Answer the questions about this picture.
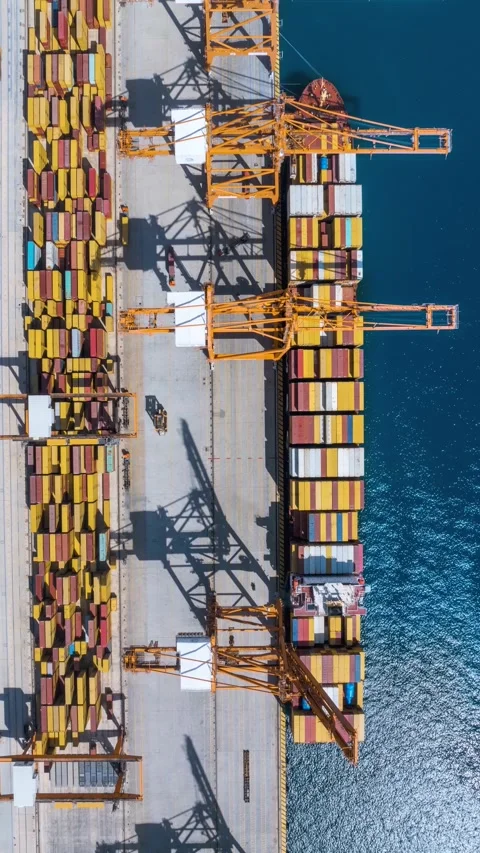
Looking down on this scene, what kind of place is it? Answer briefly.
port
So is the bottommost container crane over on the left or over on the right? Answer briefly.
left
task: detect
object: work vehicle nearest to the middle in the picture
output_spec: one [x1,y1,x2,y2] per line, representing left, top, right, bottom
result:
[151,409,167,437]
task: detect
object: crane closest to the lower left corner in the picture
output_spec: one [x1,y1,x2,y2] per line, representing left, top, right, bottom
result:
[0,728,141,807]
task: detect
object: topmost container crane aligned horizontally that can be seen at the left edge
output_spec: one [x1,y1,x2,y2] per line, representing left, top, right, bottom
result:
[0,392,137,446]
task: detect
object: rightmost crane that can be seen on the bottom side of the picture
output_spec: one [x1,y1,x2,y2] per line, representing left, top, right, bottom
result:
[122,592,355,766]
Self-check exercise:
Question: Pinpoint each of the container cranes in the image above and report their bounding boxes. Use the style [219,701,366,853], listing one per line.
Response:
[122,592,355,766]
[0,728,141,807]
[116,86,454,214]
[0,392,137,446]
[171,0,286,77]
[118,285,459,364]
